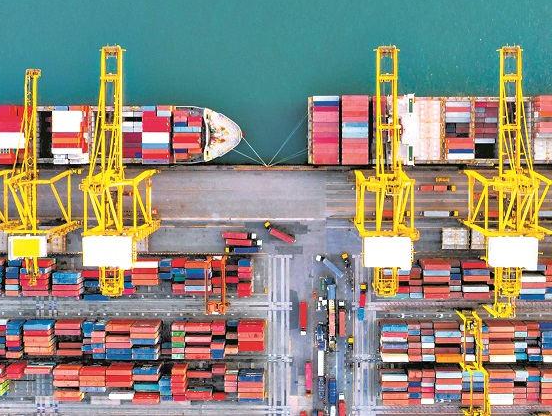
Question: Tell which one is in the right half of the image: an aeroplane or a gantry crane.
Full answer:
Visible in the right half of the image is a gantry crane.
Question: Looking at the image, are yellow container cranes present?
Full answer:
Yes, a yellow container crane appears in the view.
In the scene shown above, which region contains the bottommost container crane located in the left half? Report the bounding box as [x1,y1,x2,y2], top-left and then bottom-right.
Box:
[203,255,231,316]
